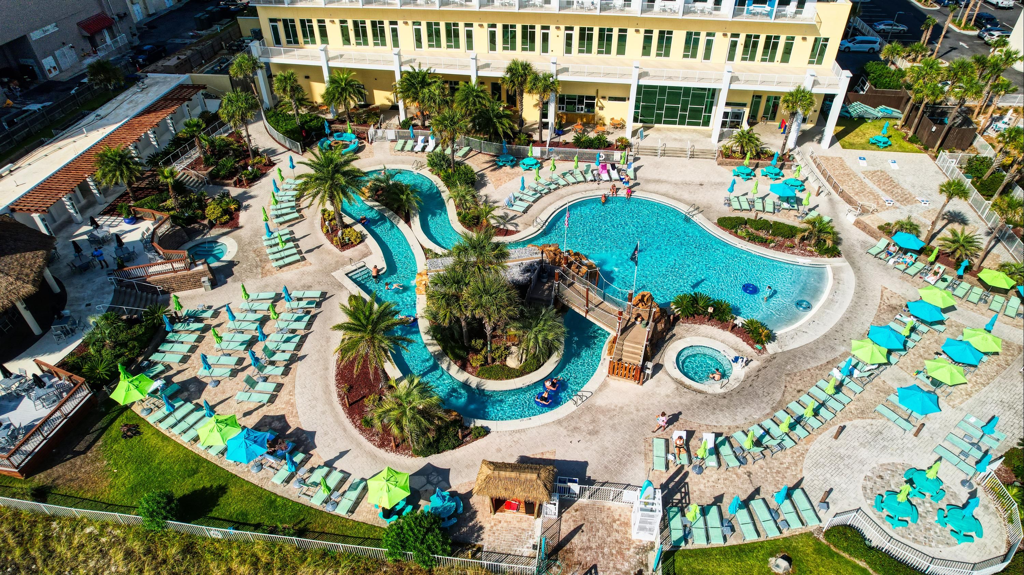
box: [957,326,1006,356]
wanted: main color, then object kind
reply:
green umbrella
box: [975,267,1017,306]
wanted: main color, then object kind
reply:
green umbrella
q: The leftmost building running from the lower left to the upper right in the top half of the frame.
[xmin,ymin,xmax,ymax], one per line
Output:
[0,72,211,246]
